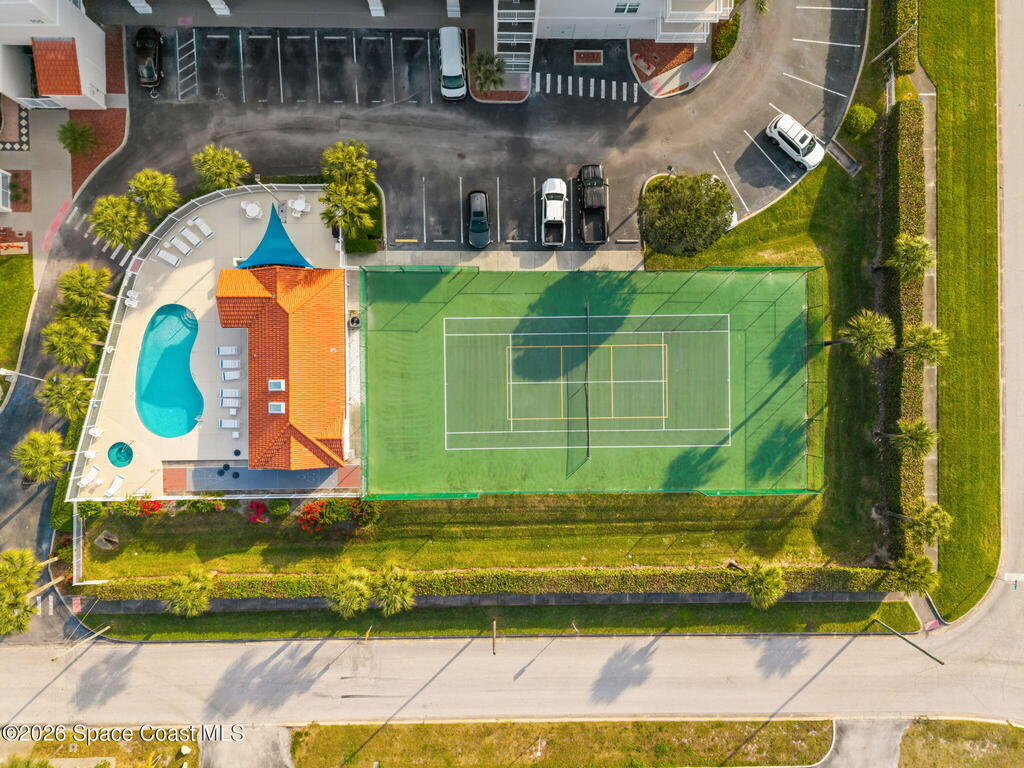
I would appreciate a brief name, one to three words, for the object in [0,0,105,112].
building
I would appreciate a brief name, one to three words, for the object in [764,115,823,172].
car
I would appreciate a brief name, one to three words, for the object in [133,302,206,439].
swimming pool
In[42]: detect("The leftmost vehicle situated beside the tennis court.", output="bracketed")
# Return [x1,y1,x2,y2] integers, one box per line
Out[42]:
[465,193,493,249]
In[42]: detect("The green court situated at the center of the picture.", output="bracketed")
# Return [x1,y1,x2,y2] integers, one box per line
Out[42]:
[366,272,807,494]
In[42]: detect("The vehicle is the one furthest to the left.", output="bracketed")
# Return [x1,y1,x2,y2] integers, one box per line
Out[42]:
[133,28,167,89]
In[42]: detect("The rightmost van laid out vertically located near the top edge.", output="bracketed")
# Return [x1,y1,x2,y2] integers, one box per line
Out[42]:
[437,27,467,103]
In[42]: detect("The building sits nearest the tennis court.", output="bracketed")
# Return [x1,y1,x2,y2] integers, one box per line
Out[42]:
[216,265,350,472]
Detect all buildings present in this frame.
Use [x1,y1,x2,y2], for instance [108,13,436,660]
[216,265,350,472]
[0,0,105,112]
[497,0,739,73]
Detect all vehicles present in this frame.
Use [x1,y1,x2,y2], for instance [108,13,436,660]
[465,193,493,249]
[540,178,569,247]
[133,28,167,89]
[437,27,467,103]
[764,115,823,172]
[578,165,609,246]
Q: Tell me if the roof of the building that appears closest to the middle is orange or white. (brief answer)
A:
orange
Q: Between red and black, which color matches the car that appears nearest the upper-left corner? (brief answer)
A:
black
